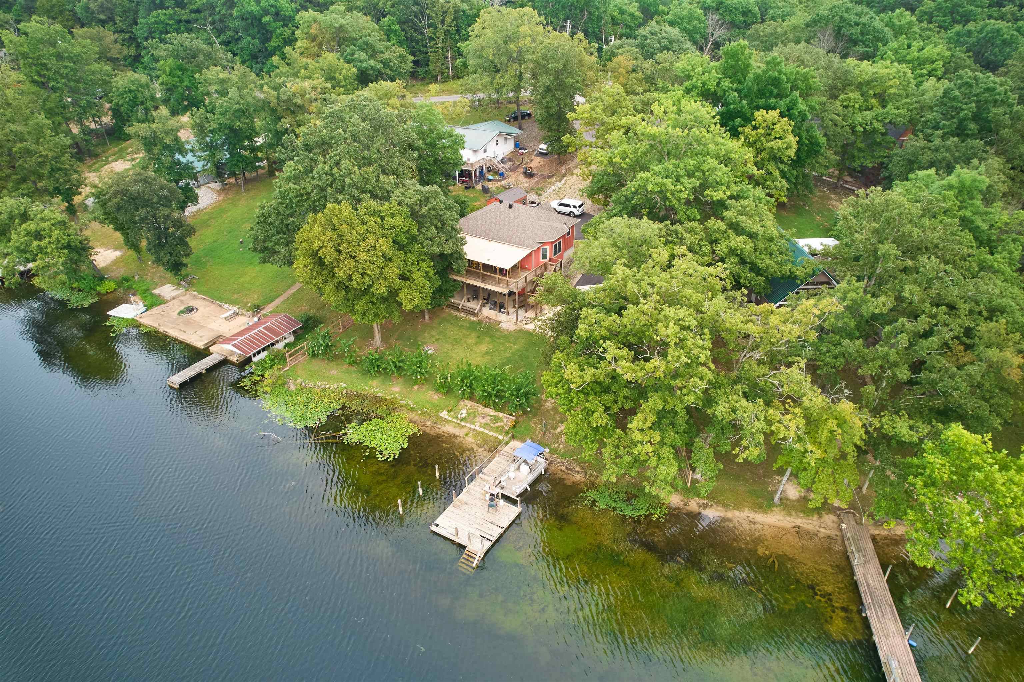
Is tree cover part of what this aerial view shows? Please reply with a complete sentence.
Yes, the picture does contain tree cover.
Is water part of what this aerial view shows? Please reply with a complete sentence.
Yes, the picture does contain water.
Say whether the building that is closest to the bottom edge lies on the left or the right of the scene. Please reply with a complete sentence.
The building that is closest to the bottom edge is on the left side of the image.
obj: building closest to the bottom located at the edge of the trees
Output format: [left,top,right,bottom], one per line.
[211,313,302,367]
